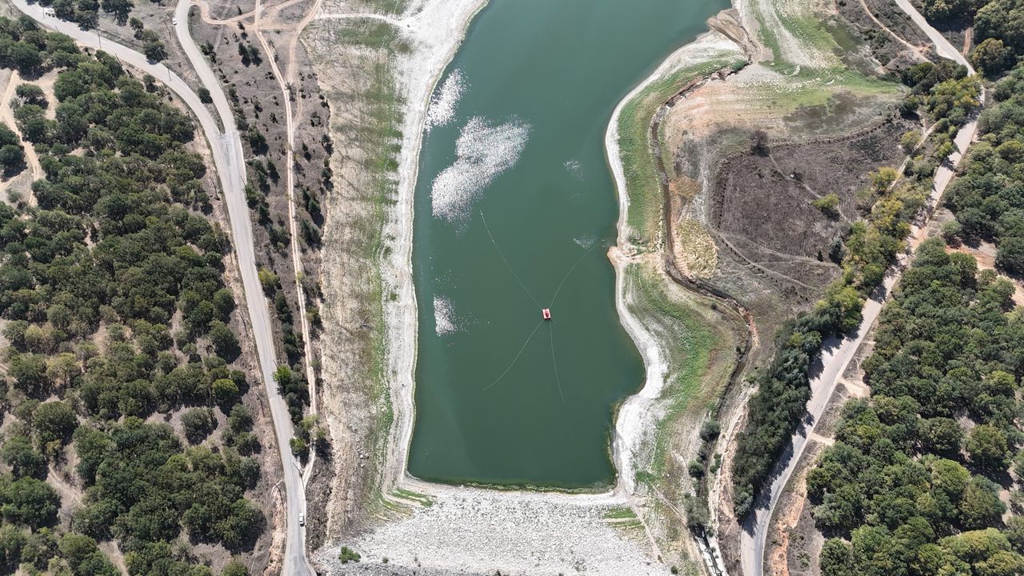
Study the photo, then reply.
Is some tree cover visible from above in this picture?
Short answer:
Yes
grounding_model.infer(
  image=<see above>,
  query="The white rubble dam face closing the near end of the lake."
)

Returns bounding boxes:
[315,484,667,576]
